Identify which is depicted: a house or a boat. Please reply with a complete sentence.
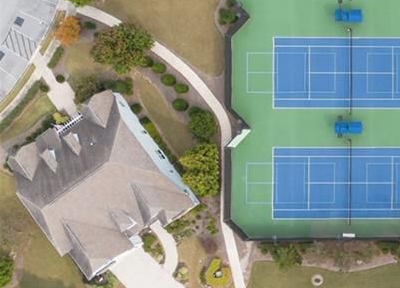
Visible in the photo is a house.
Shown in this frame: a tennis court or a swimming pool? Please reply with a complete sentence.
Visible in the photo is a tennis court.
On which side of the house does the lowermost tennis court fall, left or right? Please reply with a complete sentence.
Compared with the house, the lowermost tennis court is located further to the right.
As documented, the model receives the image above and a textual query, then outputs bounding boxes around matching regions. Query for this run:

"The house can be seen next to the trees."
[6,92,203,280]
